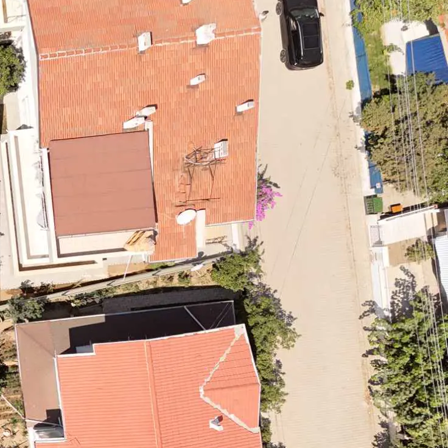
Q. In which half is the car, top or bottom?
top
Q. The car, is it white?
No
